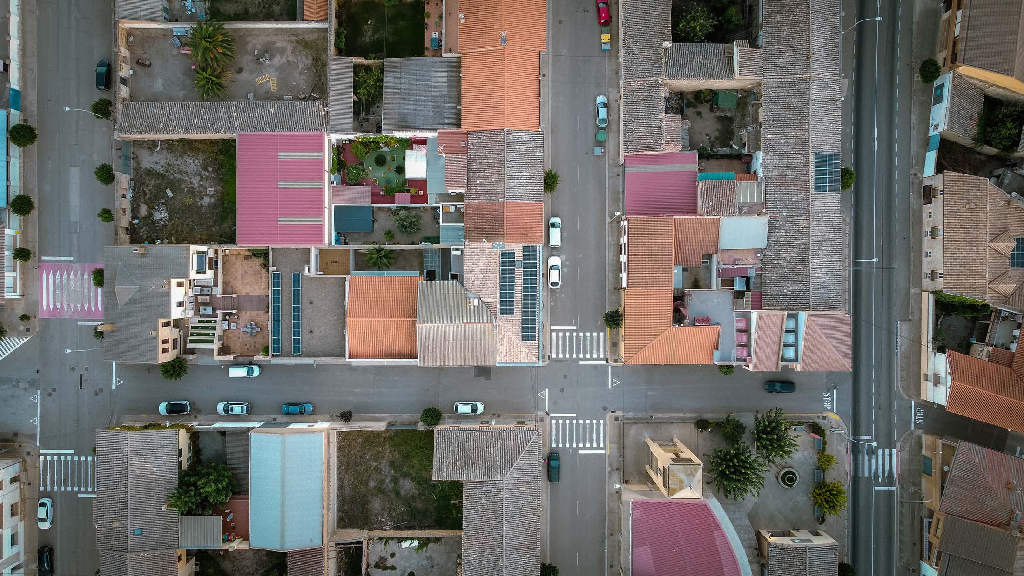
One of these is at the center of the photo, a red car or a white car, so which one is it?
white car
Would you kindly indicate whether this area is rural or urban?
urban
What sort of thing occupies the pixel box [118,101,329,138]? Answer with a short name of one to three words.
barn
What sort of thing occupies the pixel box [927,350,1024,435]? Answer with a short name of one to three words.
house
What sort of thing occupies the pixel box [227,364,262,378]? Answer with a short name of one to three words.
vehicle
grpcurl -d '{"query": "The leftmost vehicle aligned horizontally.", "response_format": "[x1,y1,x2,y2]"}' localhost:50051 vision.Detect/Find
[160,400,192,415]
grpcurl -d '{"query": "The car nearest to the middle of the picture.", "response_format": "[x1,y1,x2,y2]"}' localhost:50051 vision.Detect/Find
[546,257,562,289]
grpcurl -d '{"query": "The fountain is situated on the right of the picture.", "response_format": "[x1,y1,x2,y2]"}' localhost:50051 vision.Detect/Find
[777,467,800,489]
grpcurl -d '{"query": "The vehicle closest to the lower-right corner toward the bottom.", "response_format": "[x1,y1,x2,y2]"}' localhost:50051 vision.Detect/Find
[763,379,795,394]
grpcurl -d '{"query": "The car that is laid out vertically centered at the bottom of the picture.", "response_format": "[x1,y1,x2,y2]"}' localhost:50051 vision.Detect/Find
[546,452,561,482]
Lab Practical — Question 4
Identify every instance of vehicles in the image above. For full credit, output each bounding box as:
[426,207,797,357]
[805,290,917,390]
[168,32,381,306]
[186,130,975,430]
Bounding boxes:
[546,257,562,289]
[595,0,611,27]
[227,364,262,378]
[37,496,56,528]
[282,401,314,416]
[454,401,484,416]
[95,61,113,91]
[763,379,795,394]
[547,216,562,247]
[594,96,609,127]
[546,452,561,482]
[218,401,252,416]
[37,545,56,576]
[160,400,192,415]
